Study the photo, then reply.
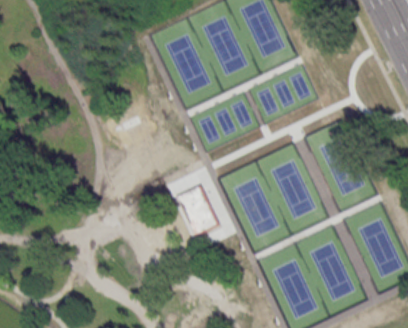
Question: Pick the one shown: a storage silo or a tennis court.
tennis court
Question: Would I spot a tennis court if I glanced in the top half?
Yes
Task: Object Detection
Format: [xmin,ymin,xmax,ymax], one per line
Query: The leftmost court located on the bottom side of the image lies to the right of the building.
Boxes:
[219,161,292,252]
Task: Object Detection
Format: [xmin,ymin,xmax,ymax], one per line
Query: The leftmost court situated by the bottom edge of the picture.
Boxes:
[258,244,330,328]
